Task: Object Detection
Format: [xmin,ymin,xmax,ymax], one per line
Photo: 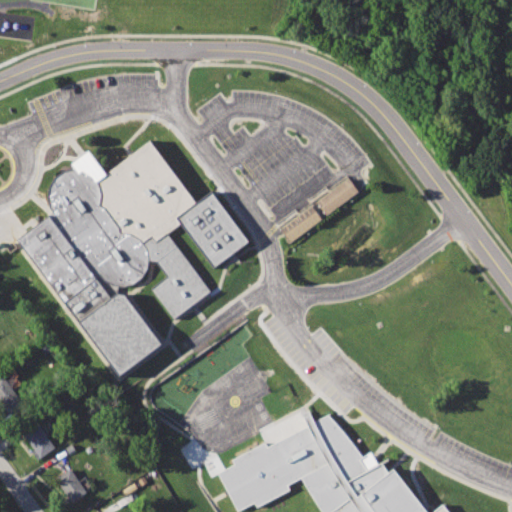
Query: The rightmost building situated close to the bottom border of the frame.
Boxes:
[218,406,448,512]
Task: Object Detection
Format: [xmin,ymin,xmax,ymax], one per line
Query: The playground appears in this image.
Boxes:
[154,325,252,414]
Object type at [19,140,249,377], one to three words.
building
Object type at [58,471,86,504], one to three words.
house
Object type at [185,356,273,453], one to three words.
sports court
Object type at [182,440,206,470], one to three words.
building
